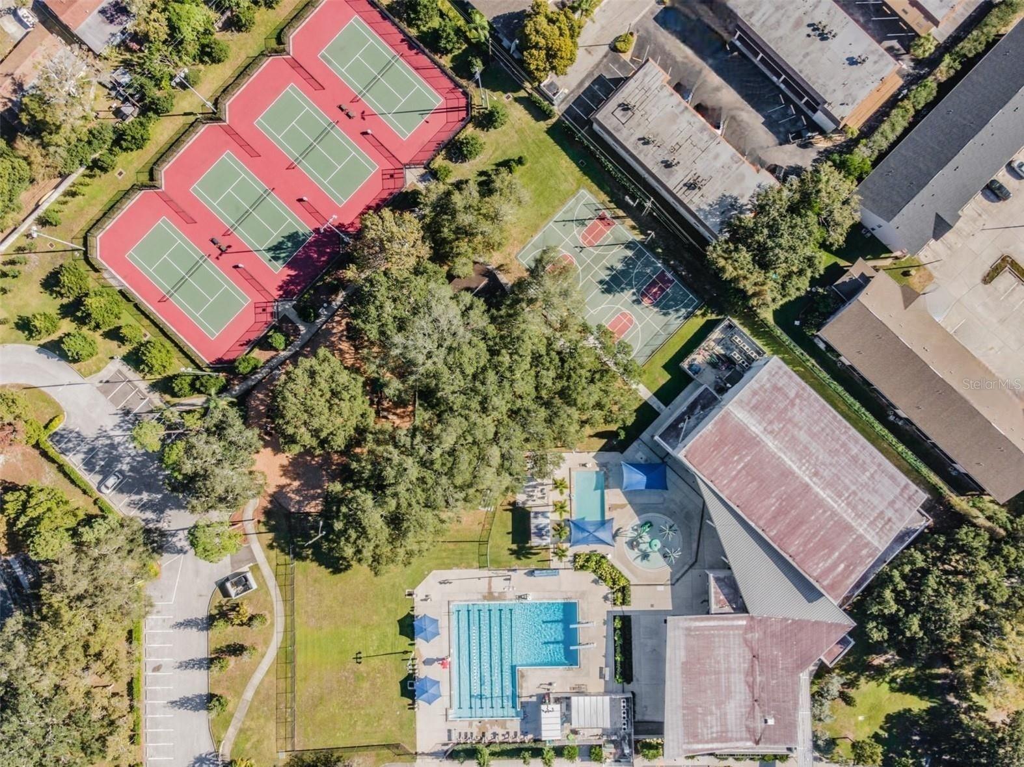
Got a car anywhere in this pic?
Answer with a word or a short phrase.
Yes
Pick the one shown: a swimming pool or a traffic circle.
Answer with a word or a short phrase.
swimming pool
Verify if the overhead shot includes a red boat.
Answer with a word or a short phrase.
No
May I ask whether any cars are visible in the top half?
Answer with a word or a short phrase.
Yes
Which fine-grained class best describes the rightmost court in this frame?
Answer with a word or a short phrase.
basketball court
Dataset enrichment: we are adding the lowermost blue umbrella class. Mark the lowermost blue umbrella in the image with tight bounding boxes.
[415,678,442,702]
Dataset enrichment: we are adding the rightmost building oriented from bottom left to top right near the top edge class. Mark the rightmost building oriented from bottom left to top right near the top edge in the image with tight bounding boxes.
[858,17,1024,259]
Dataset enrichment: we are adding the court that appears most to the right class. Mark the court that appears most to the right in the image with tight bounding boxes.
[518,189,704,364]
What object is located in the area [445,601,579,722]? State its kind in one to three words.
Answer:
swimming pool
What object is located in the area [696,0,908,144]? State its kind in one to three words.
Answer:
building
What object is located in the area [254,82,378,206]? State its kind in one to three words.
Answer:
tennis court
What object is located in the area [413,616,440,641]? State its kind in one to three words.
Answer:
umbrella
